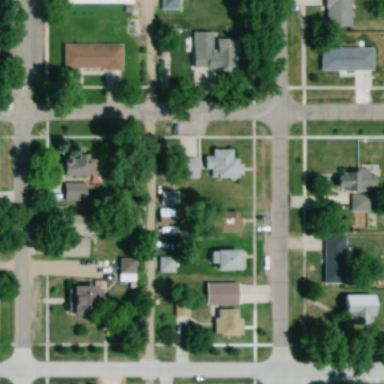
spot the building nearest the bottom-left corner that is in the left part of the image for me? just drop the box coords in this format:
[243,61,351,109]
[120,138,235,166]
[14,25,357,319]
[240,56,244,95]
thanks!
[77,285,106,316]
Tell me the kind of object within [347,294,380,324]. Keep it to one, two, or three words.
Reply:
house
